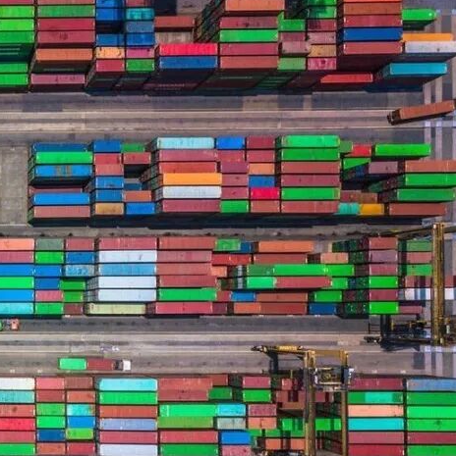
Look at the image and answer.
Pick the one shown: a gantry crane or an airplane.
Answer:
gantry crane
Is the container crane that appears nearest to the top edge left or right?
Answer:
right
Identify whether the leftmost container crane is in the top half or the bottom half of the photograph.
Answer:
bottom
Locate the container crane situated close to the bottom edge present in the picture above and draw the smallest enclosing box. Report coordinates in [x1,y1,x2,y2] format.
[250,340,357,456]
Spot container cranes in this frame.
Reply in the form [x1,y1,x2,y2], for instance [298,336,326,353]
[361,218,456,350]
[250,340,357,456]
